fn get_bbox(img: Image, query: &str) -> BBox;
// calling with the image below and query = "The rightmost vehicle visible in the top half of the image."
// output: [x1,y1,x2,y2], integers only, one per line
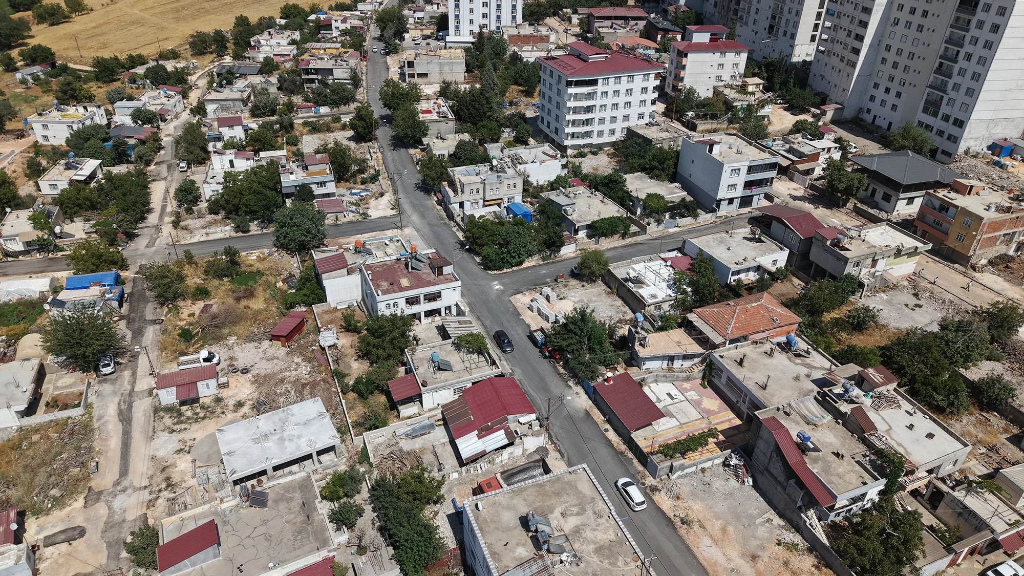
[843,137,859,152]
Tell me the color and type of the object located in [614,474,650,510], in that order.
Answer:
white car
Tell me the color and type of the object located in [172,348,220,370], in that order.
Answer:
white truck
